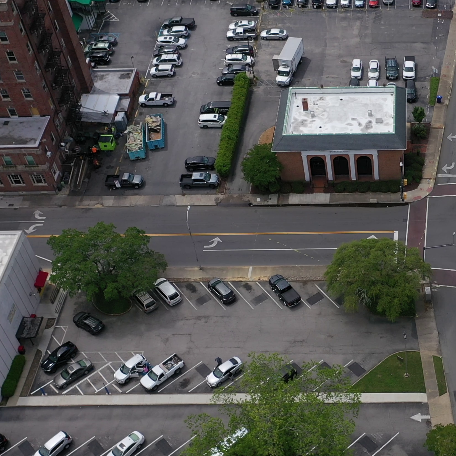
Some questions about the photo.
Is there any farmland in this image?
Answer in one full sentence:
No, the picture contains no farmland.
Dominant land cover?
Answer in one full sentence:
The scene is dominated by paved ground.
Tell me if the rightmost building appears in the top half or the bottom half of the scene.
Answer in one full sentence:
The top half of the photo is where the rightmost building is.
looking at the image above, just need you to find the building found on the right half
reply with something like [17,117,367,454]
[270,79,407,181]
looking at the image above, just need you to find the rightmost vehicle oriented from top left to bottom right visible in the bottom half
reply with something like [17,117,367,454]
[268,274,303,310]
